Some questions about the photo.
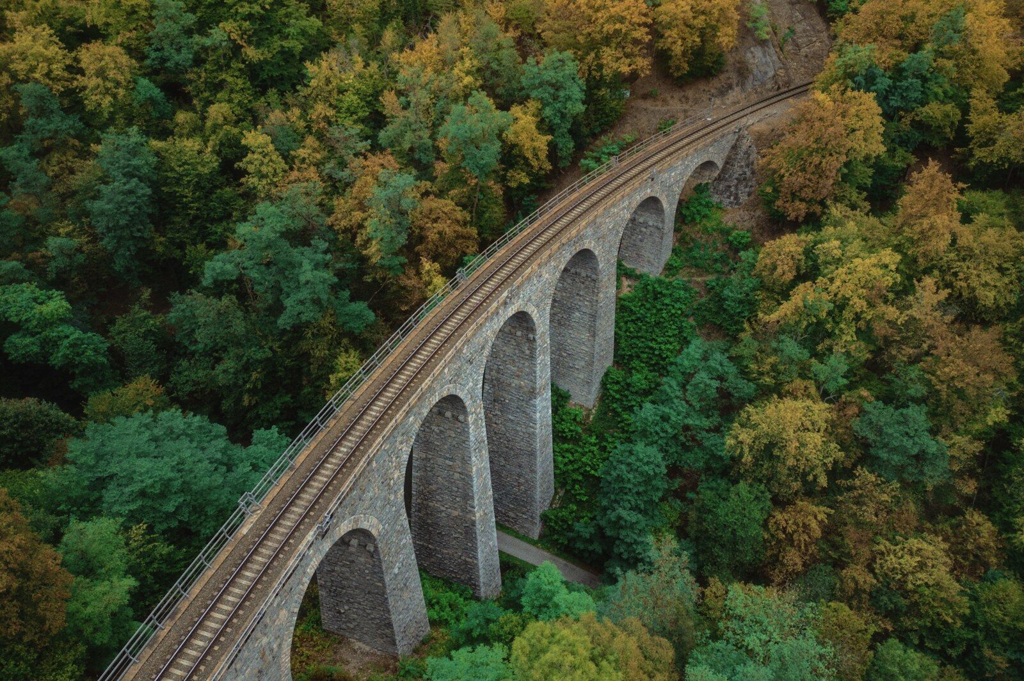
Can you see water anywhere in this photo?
No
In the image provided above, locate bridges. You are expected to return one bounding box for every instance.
[120,113,750,681]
